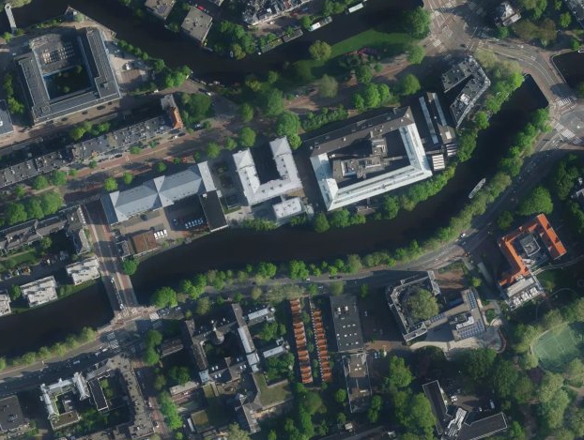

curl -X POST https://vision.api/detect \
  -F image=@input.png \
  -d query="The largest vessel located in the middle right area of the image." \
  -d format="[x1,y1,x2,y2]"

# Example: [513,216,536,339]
[467,178,484,199]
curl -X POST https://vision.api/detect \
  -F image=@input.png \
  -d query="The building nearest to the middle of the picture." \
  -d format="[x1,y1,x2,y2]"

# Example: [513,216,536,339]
[273,198,303,219]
